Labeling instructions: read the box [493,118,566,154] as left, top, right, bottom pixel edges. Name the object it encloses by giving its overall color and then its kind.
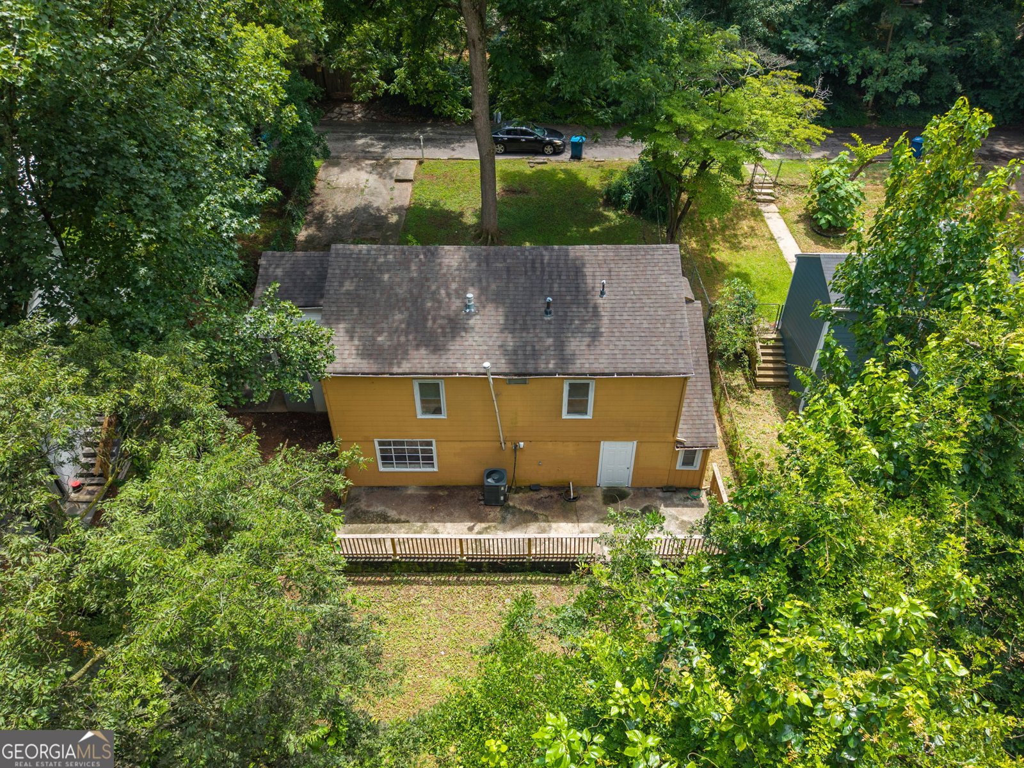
black car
